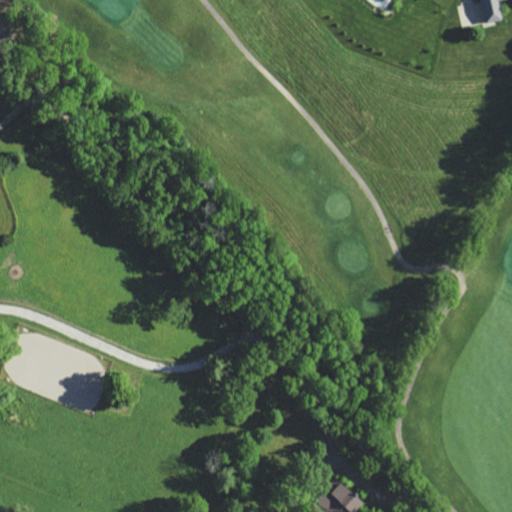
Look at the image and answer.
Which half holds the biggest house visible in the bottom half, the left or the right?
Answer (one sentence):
The biggest house visible in the bottom half sits on the right side.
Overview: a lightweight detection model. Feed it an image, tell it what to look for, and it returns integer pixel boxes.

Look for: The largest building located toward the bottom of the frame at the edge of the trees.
[328,484,360,512]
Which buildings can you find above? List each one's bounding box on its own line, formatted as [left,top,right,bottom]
[328,484,360,512]
[483,0,503,18]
